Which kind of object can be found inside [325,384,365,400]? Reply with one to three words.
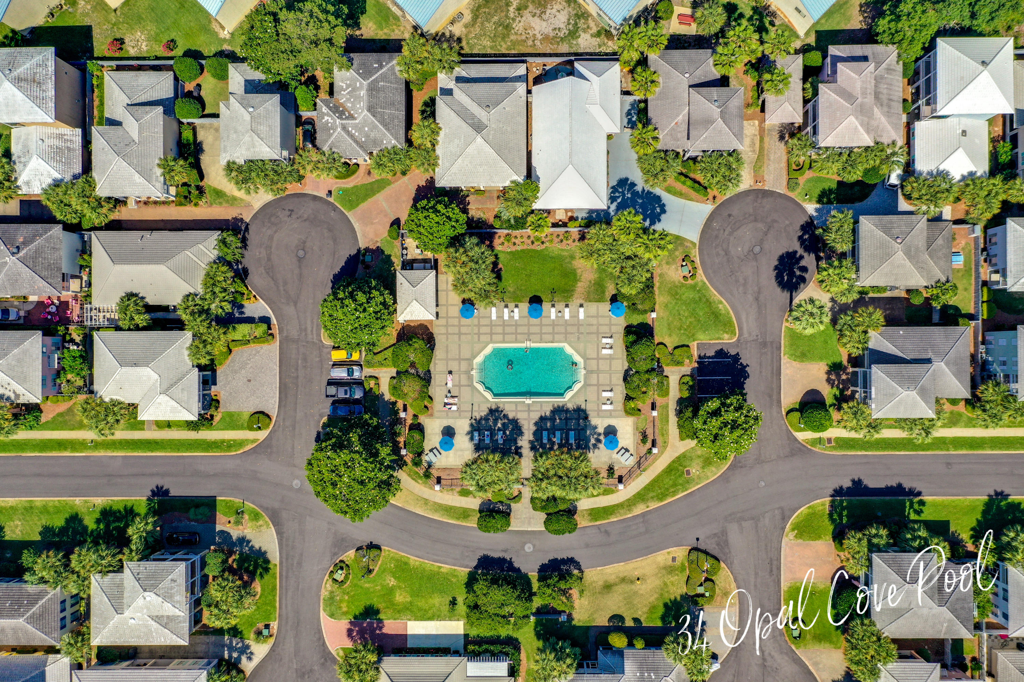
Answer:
vehicle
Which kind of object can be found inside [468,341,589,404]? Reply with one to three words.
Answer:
swimming pool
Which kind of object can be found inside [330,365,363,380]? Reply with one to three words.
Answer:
car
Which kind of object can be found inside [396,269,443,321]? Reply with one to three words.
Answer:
building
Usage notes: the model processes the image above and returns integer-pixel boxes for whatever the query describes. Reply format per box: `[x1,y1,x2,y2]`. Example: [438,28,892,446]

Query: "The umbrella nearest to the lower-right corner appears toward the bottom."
[604,435,618,450]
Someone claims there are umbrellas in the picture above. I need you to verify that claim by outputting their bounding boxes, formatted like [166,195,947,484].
[604,435,618,450]
[439,436,454,452]
[460,304,475,319]
[528,303,543,319]
[610,302,626,317]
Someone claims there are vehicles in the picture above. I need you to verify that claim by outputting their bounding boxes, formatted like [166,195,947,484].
[330,350,361,363]
[325,384,365,400]
[166,532,200,546]
[330,403,364,419]
[882,160,900,191]
[300,117,316,150]
[330,365,363,380]
[0,306,22,322]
